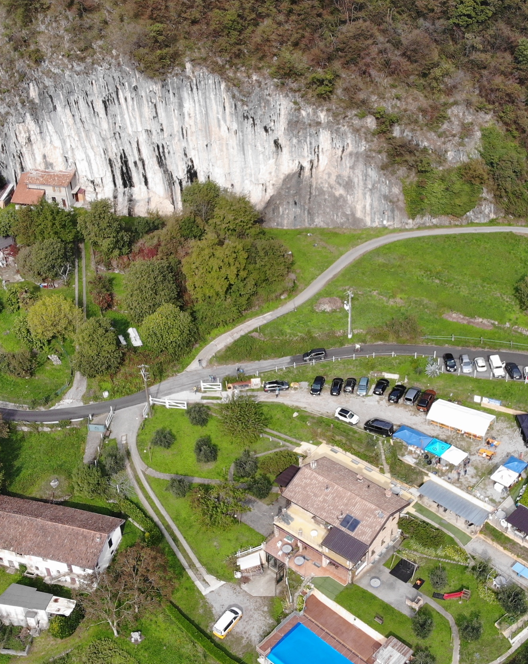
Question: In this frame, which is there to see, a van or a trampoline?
van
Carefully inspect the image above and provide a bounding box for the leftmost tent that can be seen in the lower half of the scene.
[394,425,434,452]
